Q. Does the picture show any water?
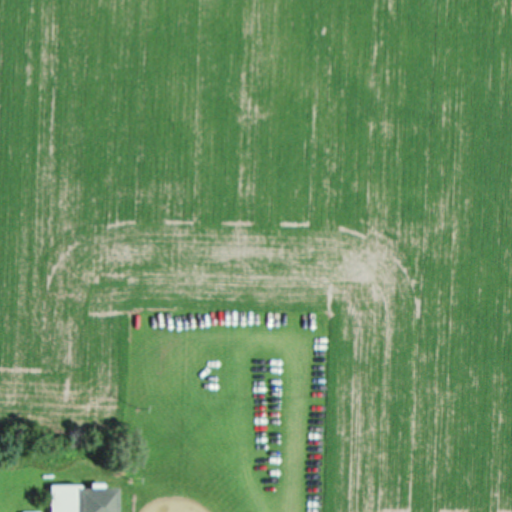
No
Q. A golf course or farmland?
farmland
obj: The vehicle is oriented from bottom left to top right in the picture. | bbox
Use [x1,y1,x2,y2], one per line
[196,366,213,380]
